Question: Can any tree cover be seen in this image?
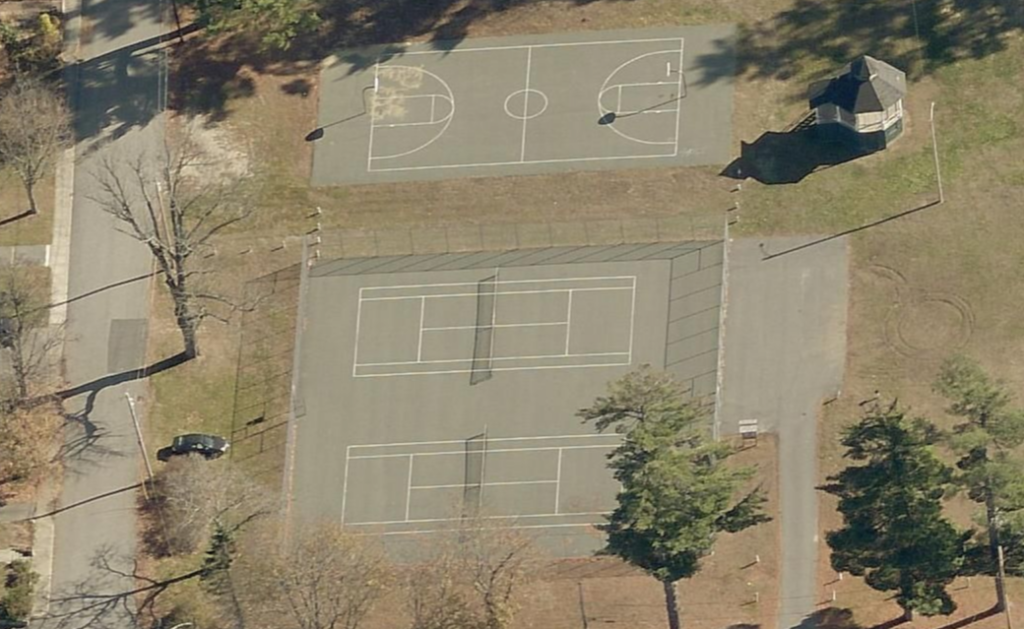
Yes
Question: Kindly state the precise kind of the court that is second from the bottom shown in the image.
tennis court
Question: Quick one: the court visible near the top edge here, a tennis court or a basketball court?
basketball court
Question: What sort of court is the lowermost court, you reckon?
tennis court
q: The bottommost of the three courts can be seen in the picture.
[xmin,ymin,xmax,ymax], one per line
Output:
[285,395,714,563]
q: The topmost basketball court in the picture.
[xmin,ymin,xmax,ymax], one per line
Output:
[311,24,734,185]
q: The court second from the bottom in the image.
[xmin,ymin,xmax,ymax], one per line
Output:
[296,240,722,413]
